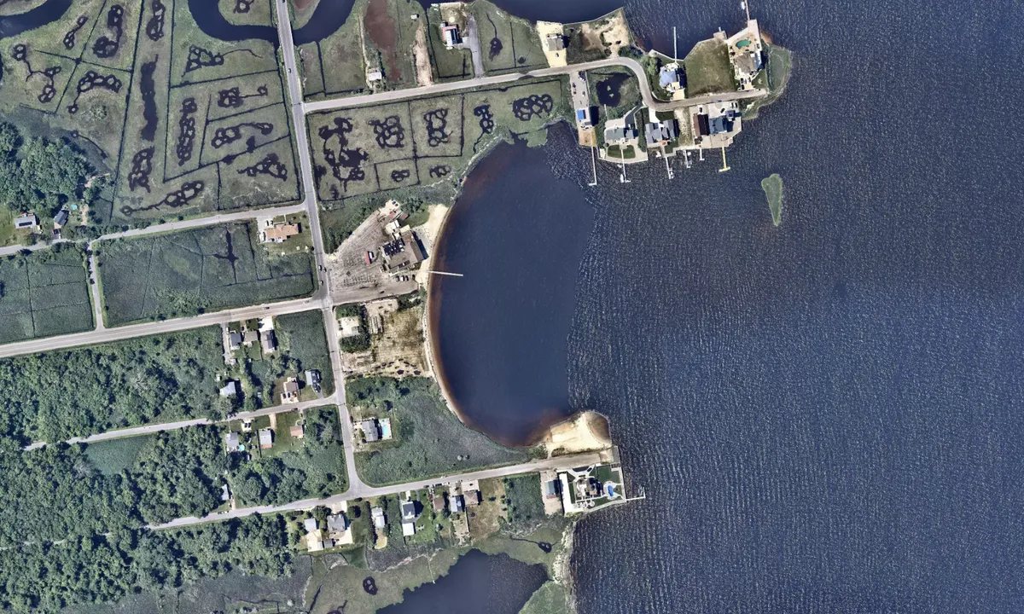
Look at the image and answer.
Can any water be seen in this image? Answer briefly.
Yes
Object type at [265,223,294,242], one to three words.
house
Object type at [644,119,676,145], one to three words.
house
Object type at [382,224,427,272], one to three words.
building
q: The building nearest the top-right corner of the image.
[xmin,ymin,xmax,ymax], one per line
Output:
[736,50,763,71]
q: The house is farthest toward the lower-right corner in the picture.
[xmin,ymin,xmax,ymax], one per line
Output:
[577,476,602,498]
